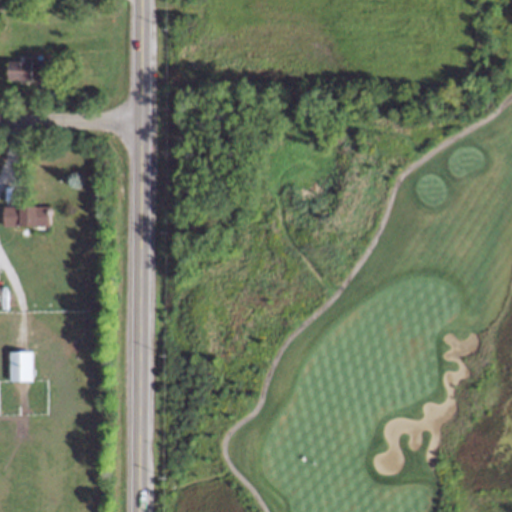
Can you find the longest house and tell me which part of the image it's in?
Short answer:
left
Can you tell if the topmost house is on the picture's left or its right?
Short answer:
left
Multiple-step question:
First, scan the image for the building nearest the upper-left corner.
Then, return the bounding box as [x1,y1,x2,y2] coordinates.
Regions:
[6,62,32,85]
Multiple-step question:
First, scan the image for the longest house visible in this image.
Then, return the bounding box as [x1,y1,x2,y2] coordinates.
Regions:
[2,206,52,230]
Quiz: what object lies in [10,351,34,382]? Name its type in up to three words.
barn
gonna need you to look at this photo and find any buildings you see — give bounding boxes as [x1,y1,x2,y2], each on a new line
[2,206,52,230]
[10,351,34,382]
[6,62,32,85]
